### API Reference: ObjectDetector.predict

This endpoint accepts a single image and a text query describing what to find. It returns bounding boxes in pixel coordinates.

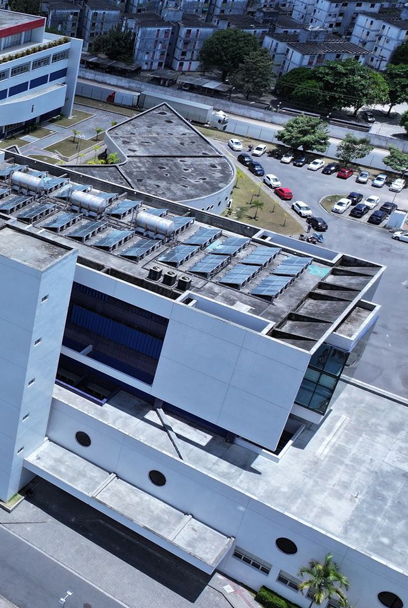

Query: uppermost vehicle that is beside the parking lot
[155,89,238,128]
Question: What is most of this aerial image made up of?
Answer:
buildings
